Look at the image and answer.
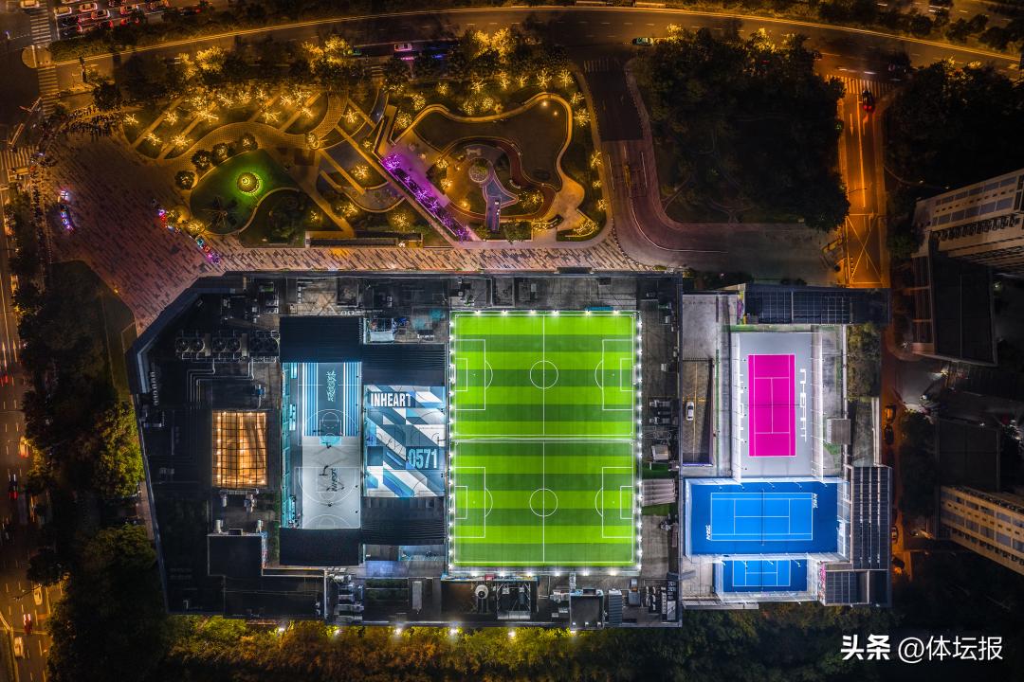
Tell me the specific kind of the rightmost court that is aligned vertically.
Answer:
tennis court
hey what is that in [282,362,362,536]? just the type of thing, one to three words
basketball court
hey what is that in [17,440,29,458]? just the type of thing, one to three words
vehicle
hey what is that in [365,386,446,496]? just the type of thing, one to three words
basketball court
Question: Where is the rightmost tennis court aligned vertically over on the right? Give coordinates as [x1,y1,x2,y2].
[740,332,813,479]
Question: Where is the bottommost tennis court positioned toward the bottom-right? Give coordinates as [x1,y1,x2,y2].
[721,555,808,594]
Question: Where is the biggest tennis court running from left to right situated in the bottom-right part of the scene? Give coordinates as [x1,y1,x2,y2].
[690,483,839,556]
